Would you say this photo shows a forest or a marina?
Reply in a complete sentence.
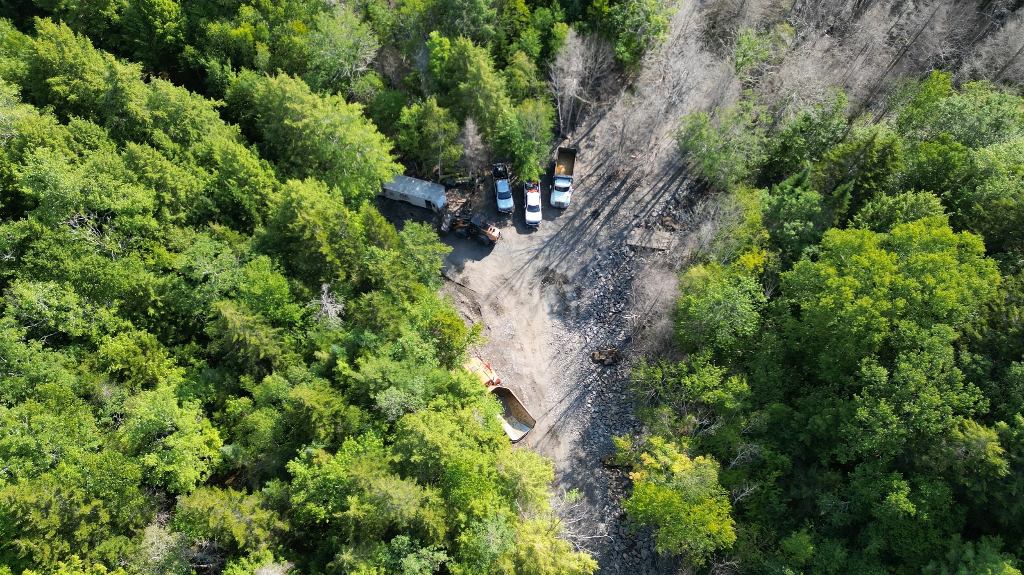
This looks like a forest.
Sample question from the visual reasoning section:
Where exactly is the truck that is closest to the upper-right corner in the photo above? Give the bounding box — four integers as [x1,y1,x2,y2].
[550,146,578,211]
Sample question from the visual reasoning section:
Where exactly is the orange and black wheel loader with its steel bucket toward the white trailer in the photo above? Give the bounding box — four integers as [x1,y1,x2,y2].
[440,215,502,246]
